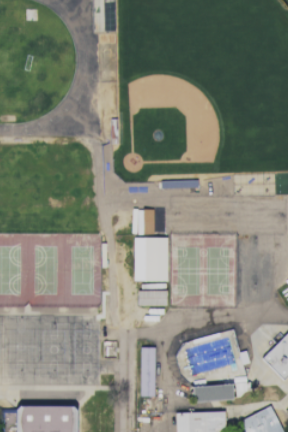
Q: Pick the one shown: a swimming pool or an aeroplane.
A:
swimming pool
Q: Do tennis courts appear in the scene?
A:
Yes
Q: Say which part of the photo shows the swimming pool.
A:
bottom right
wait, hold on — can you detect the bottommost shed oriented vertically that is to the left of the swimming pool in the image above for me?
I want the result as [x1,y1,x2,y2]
[141,348,156,398]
